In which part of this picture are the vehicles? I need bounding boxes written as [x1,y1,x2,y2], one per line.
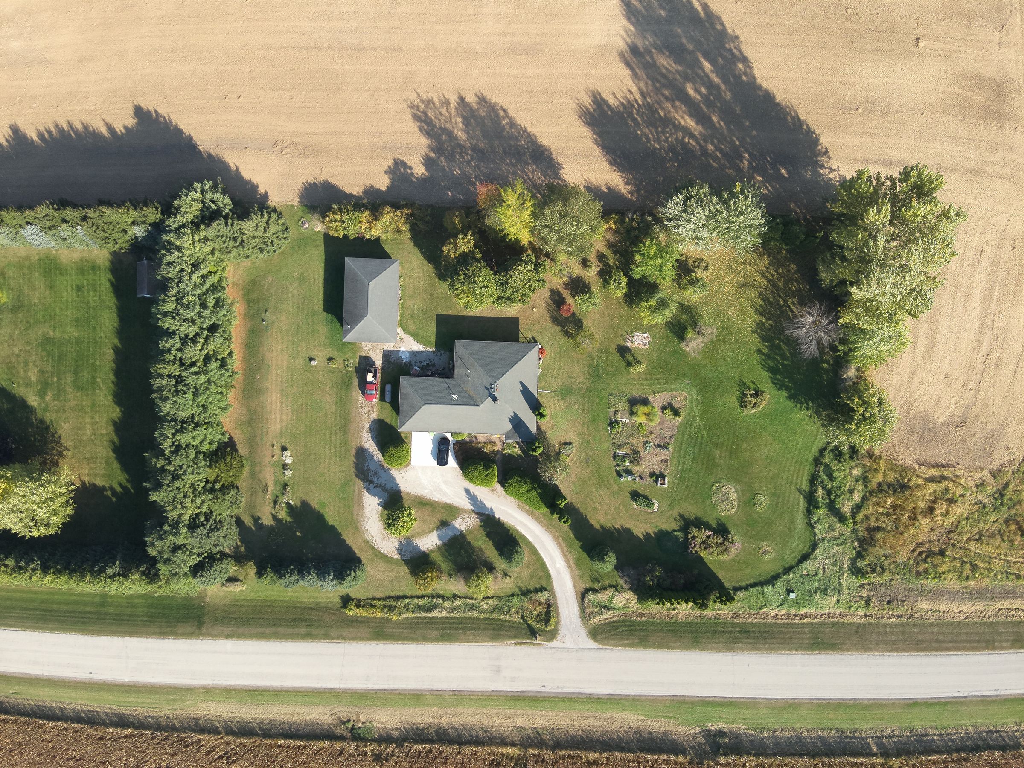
[364,366,379,403]
[436,437,450,467]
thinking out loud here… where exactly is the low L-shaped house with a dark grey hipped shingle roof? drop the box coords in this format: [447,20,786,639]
[398,340,551,443]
